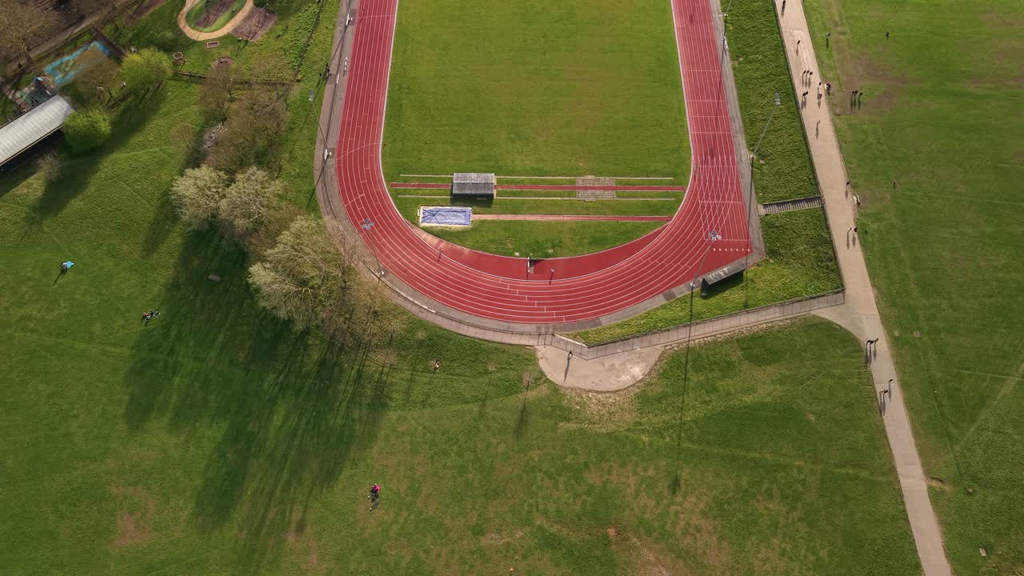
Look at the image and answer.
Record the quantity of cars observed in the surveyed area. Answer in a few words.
none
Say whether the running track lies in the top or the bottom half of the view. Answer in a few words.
top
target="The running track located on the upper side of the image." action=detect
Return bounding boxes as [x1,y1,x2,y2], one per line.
[336,0,750,323]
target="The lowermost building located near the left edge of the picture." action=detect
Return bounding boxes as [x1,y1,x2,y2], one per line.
[0,94,74,178]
